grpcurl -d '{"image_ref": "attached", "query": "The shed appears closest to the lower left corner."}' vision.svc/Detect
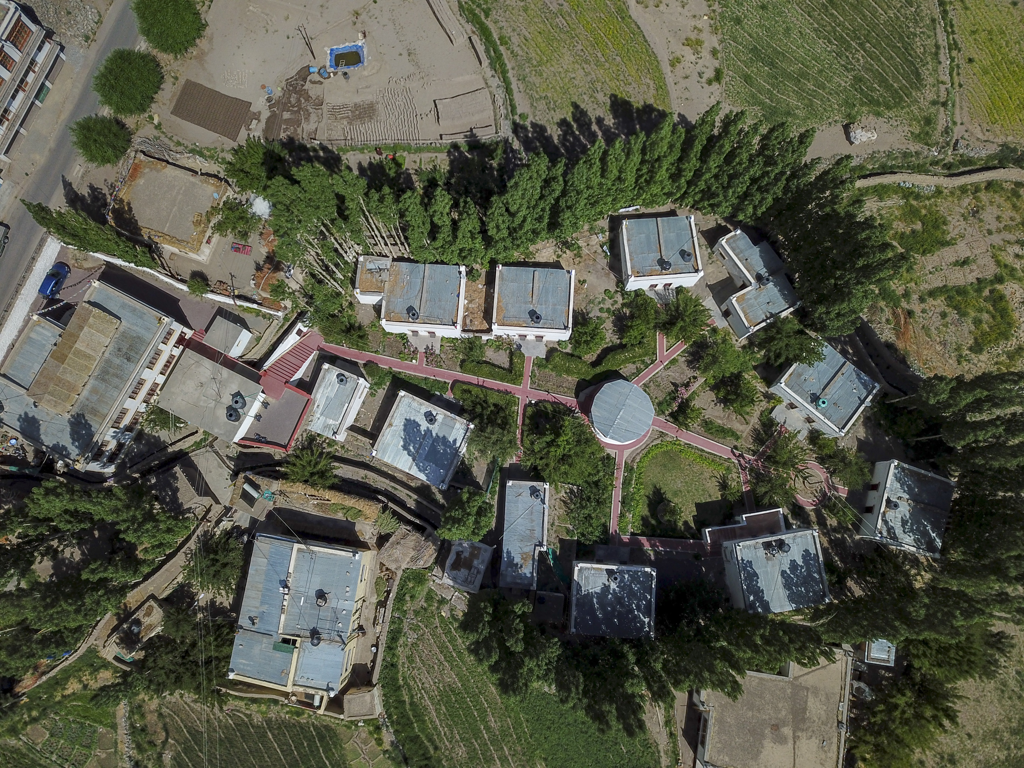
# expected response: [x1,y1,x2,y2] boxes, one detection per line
[103,596,174,659]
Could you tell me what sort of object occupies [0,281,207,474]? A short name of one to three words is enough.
building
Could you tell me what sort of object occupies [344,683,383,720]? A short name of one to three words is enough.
shed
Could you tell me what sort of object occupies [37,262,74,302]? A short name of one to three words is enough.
car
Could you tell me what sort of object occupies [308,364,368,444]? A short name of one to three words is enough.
house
